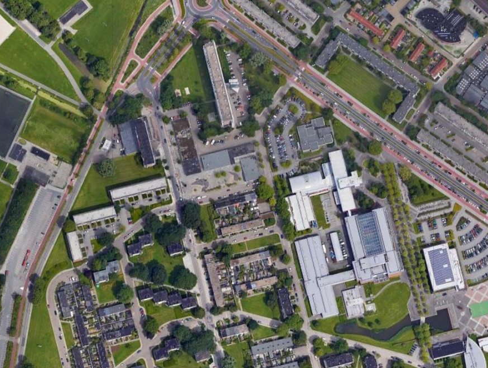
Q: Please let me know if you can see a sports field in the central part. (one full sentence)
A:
No, no sports field can be made out in the central part.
